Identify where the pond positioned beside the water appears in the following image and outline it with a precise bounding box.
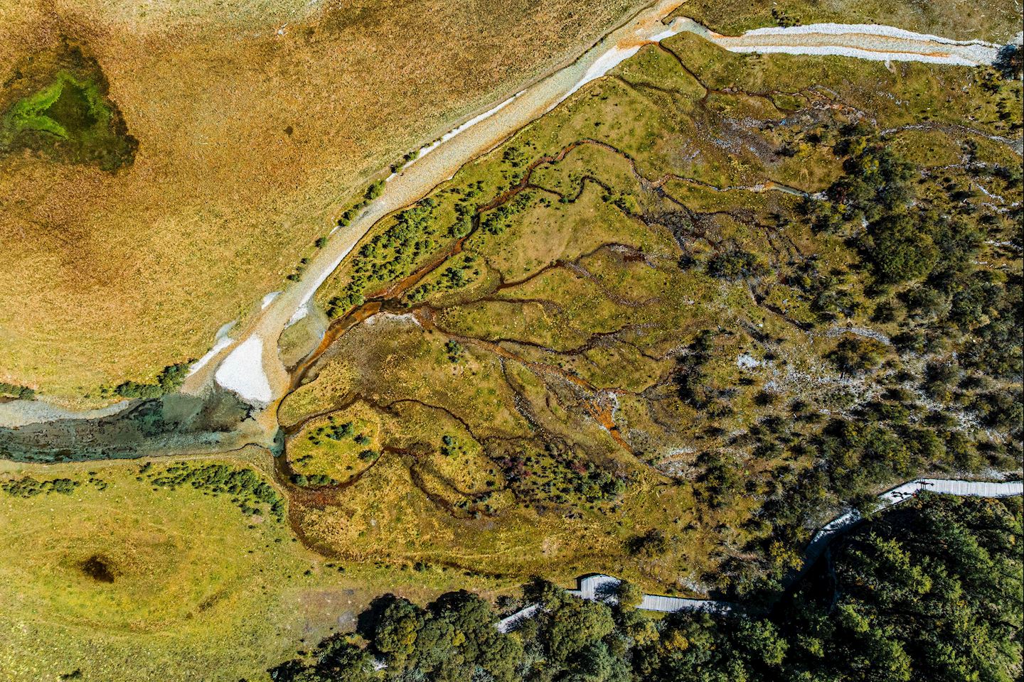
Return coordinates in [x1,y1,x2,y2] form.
[0,40,145,179]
